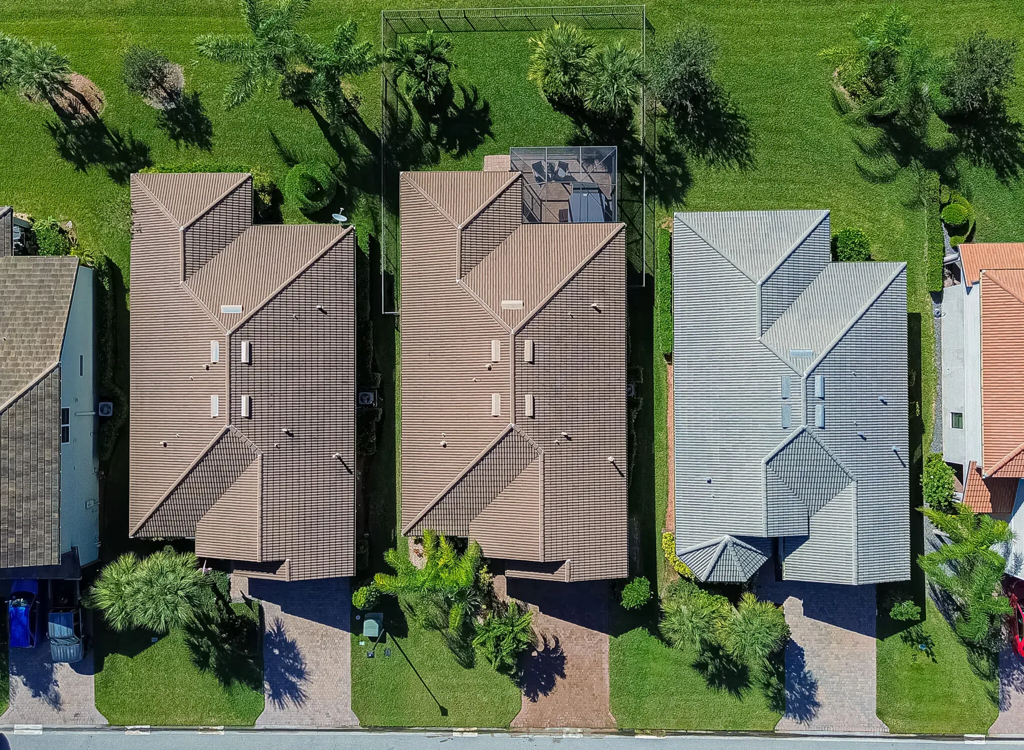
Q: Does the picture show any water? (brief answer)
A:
No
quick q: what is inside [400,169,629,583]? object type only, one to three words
house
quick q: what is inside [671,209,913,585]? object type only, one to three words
house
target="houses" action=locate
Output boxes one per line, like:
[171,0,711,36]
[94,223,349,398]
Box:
[940,243,1024,586]
[671,209,913,585]
[0,204,100,581]
[400,169,629,583]
[126,171,357,582]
